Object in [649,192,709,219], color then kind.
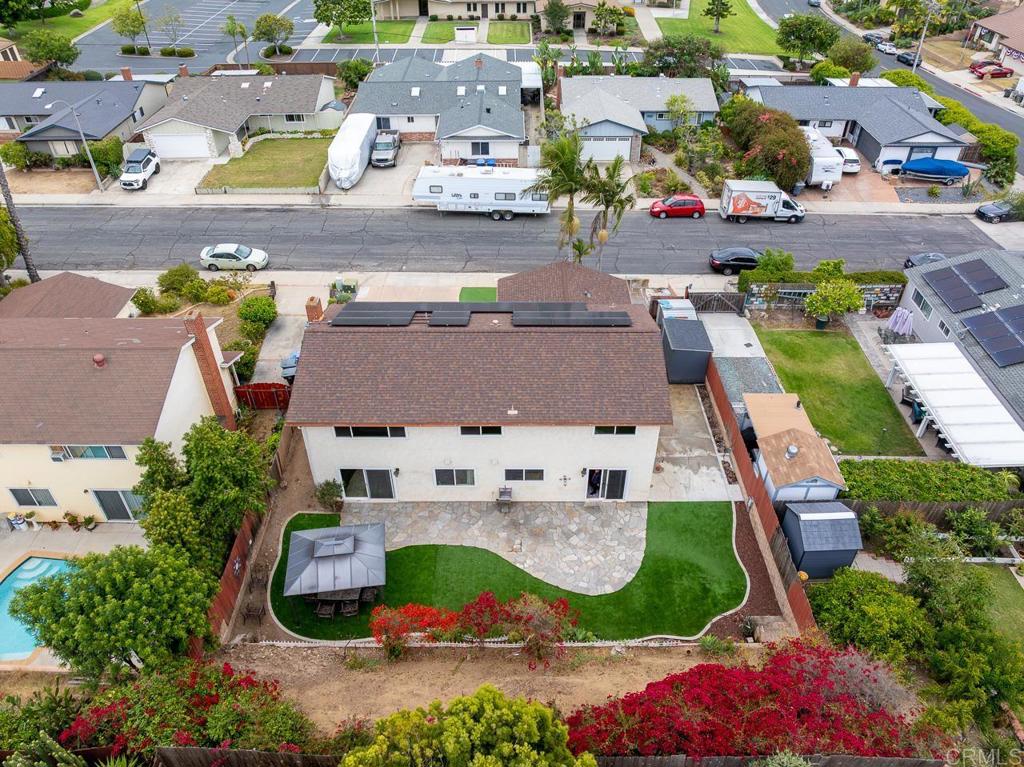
red car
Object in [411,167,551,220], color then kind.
white camper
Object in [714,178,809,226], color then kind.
white truck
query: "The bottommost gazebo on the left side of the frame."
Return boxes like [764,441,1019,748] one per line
[284,521,387,628]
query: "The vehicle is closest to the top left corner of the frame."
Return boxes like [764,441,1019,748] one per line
[111,148,164,189]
